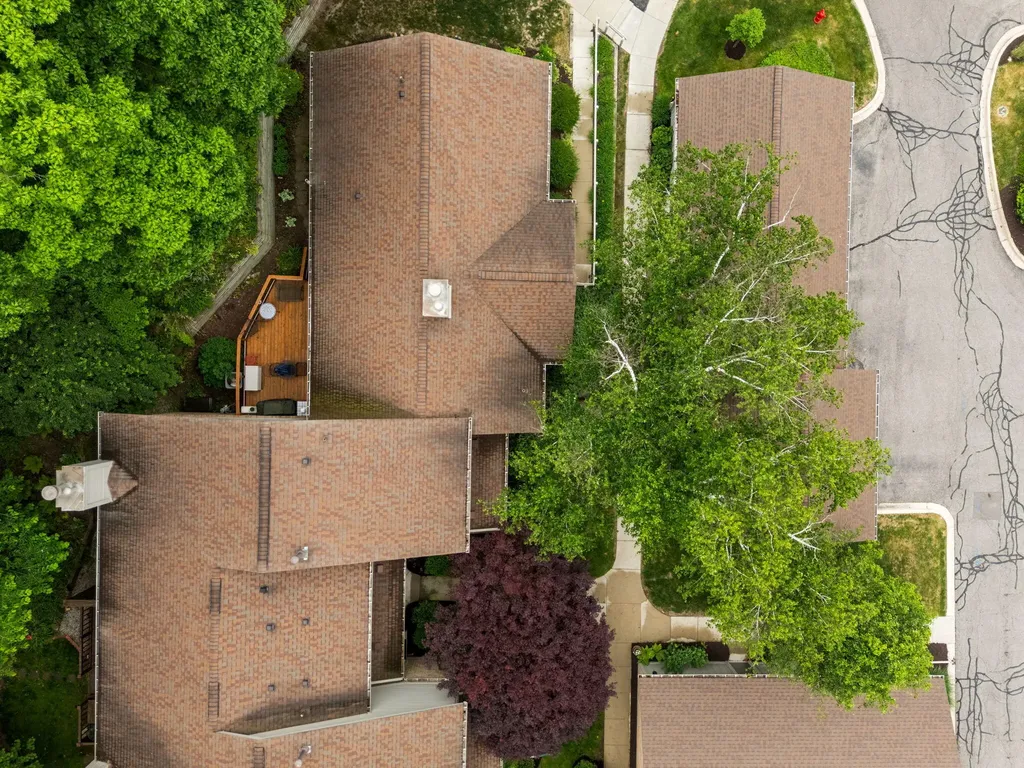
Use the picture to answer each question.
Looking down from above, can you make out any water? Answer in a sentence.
No, the picture contains no water.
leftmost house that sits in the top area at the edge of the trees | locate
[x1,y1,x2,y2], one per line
[306,33,574,437]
